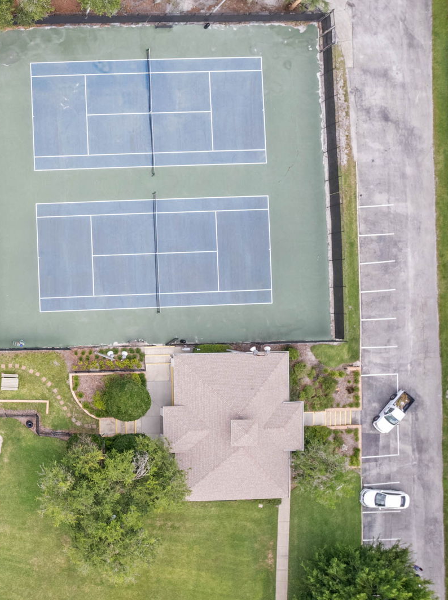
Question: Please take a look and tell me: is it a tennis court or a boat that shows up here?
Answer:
tennis court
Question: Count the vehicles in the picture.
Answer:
two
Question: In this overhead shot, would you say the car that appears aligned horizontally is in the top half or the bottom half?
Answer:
bottom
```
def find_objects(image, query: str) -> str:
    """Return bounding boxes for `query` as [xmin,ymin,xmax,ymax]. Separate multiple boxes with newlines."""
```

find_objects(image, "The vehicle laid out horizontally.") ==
[359,488,409,511]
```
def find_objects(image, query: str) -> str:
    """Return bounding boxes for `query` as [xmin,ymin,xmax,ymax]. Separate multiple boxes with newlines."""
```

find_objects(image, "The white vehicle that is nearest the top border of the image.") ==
[371,387,415,433]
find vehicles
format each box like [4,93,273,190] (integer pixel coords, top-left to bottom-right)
[371,387,415,433]
[359,488,409,511]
